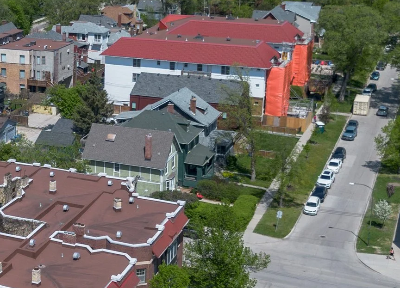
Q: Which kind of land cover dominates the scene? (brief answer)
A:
buildings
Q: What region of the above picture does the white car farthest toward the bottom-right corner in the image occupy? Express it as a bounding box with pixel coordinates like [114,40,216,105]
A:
[303,197,322,213]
